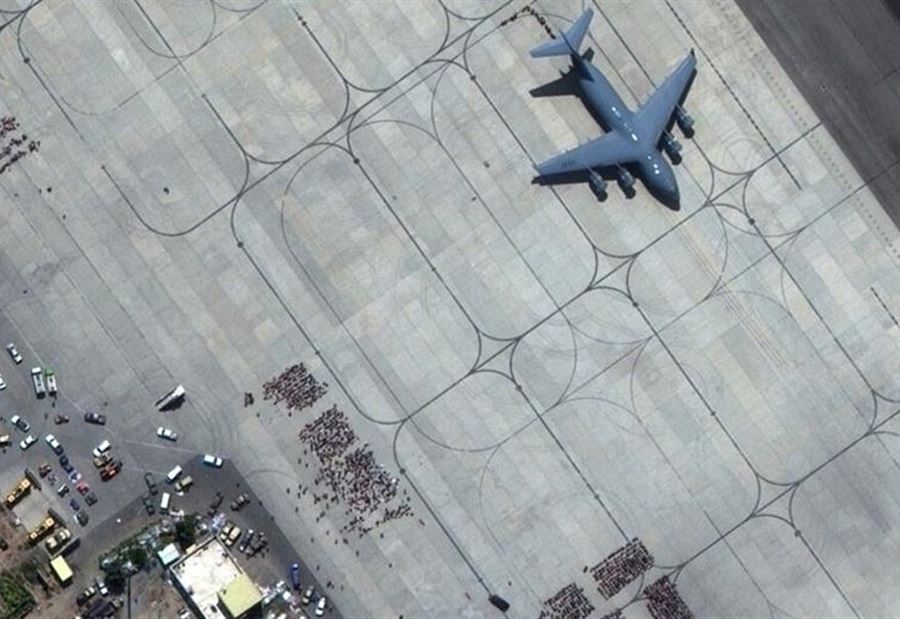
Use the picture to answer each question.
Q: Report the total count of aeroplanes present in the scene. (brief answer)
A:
1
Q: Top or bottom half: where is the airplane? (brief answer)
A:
top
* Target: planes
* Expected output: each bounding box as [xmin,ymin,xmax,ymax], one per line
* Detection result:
[530,9,695,207]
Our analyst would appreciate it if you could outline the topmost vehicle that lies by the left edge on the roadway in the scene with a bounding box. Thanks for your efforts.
[7,343,22,362]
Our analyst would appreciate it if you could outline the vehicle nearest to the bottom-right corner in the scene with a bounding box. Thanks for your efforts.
[489,595,510,613]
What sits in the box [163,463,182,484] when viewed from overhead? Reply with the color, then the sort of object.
white vehicle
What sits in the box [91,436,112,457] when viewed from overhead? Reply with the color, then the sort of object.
white truck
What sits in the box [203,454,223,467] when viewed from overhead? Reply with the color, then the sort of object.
white vehicle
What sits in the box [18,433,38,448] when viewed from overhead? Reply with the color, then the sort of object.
white car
